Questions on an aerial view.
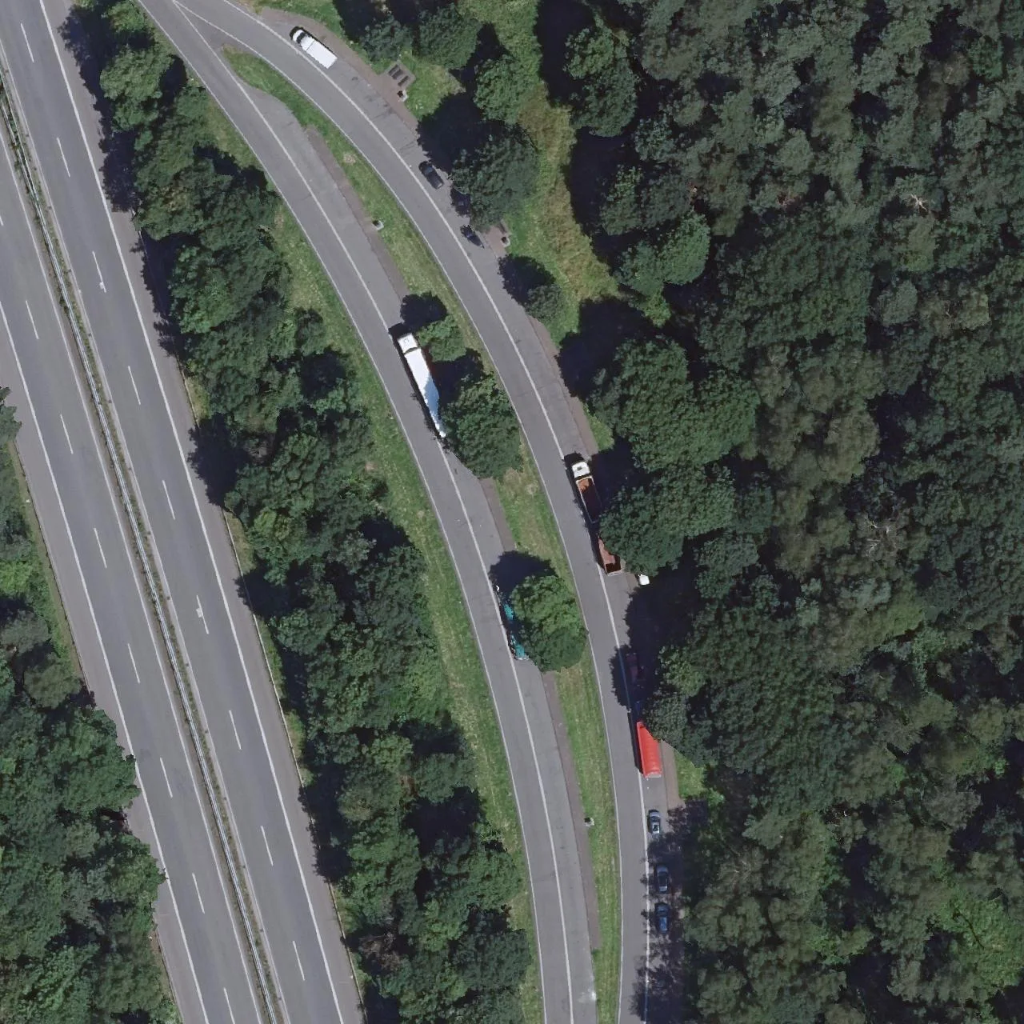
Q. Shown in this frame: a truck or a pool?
truck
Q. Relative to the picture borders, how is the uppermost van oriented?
at an angle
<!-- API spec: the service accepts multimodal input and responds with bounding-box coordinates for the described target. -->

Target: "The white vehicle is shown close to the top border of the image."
[294,29,337,68]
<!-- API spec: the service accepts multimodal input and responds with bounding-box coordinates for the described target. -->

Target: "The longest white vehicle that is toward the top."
[395,332,454,437]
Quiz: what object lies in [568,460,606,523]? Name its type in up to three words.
truck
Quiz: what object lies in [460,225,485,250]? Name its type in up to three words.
car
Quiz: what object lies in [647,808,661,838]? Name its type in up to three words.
car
